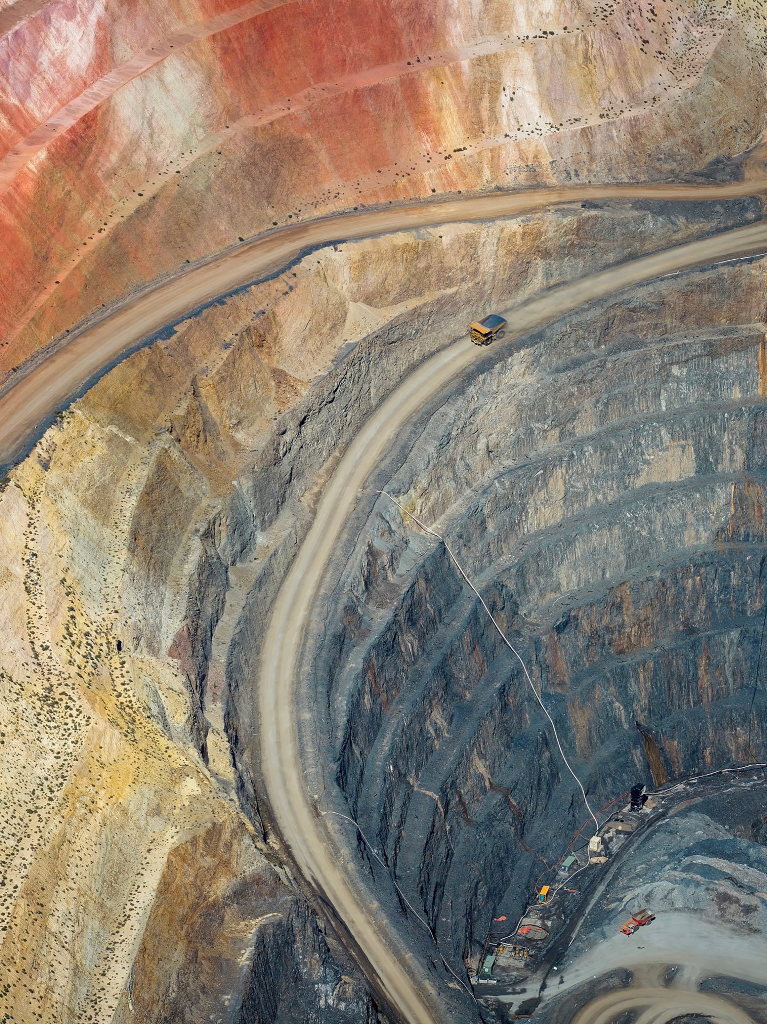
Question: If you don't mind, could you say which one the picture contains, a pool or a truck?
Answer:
truck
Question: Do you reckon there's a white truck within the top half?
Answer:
No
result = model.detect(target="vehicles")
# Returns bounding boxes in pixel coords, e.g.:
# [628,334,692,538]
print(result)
[622,911,655,937]
[468,312,509,344]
